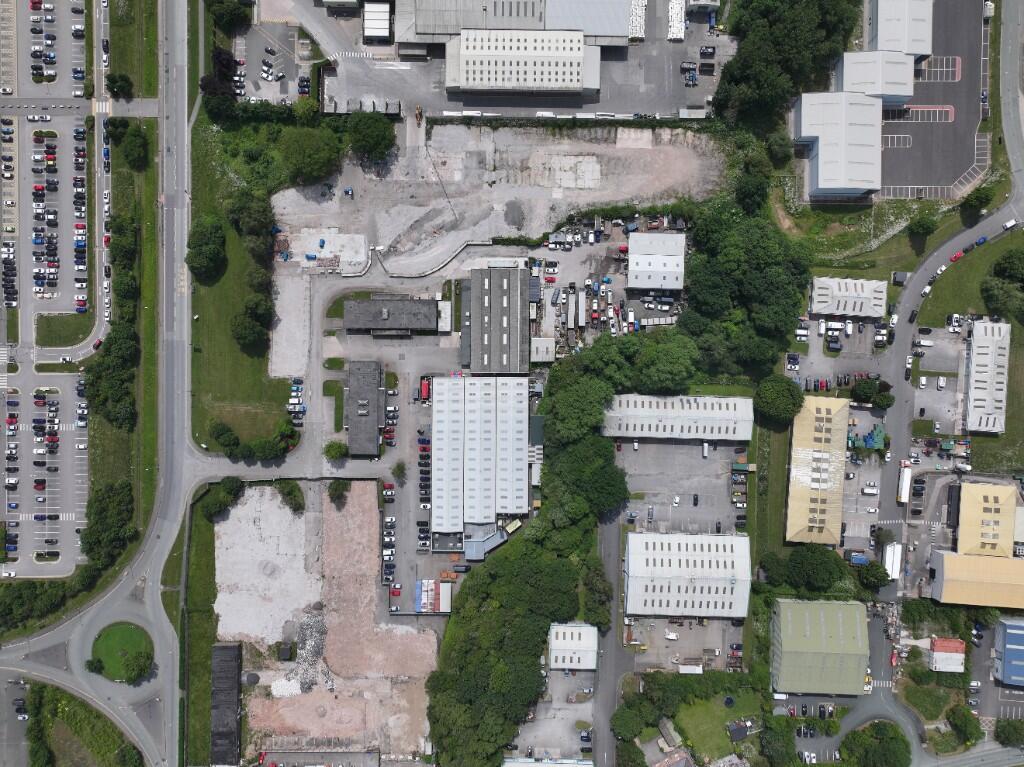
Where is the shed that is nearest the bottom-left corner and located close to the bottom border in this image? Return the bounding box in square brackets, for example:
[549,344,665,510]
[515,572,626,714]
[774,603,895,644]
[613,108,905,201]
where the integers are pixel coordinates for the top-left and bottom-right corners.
[211,639,245,767]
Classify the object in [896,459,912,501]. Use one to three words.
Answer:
vehicle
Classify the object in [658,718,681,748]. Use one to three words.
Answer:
shed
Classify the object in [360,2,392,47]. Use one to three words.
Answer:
building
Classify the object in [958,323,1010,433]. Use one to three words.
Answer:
building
